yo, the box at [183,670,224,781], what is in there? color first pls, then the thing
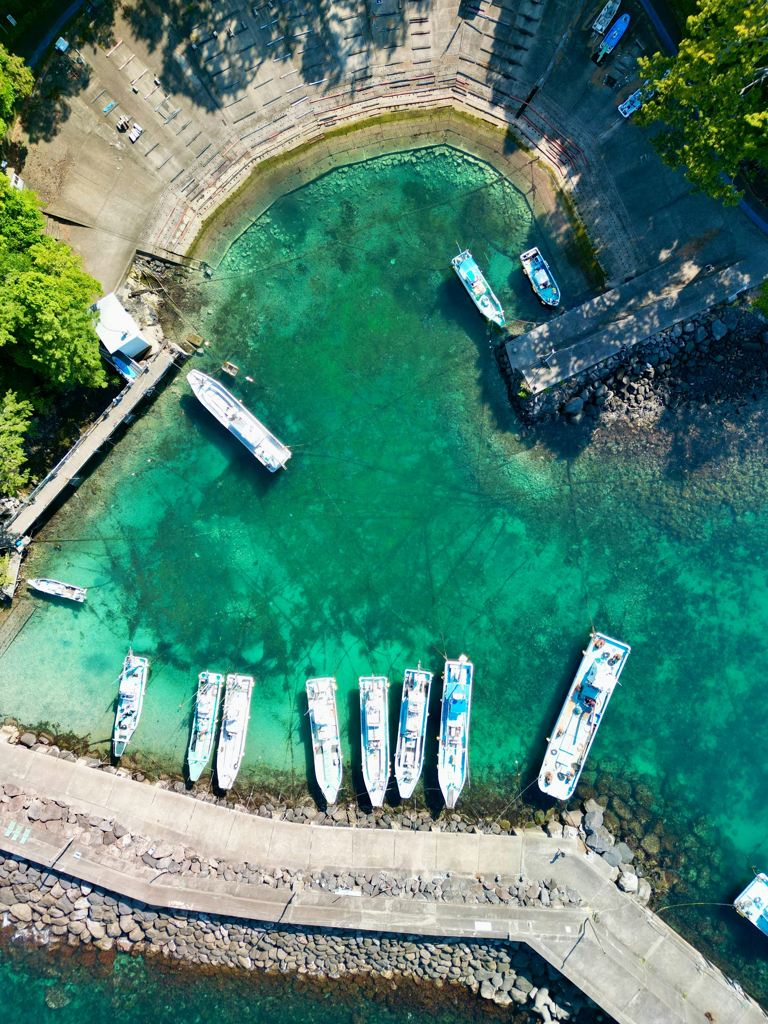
white boat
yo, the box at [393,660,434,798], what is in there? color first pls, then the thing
white boat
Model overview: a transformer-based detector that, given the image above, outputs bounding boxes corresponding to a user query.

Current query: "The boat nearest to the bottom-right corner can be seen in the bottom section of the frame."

[729,868,768,936]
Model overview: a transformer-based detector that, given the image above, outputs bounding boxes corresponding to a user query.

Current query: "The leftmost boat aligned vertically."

[111,646,150,756]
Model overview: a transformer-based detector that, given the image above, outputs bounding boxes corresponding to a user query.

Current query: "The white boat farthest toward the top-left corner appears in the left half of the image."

[187,369,292,473]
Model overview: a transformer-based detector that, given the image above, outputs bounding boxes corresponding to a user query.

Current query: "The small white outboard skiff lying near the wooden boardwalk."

[28,578,89,602]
